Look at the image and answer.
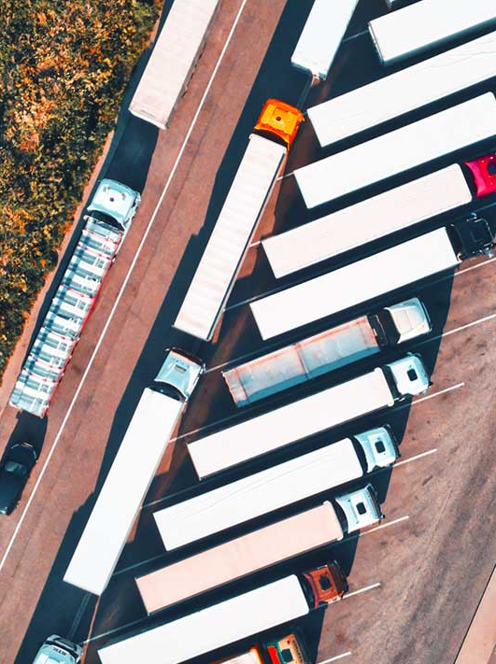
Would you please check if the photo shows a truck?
Yes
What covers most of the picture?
paved ground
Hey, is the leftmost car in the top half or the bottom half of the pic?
bottom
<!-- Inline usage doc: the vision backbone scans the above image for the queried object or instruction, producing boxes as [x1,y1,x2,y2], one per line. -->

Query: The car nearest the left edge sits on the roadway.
[0,441,36,515]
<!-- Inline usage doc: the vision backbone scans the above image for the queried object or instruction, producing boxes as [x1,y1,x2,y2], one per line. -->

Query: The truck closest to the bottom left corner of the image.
[40,631,92,664]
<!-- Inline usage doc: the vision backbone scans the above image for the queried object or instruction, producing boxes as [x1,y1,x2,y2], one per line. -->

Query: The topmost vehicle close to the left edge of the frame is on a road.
[9,180,145,419]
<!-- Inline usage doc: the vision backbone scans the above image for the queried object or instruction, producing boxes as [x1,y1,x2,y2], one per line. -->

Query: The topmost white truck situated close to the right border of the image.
[368,0,496,69]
